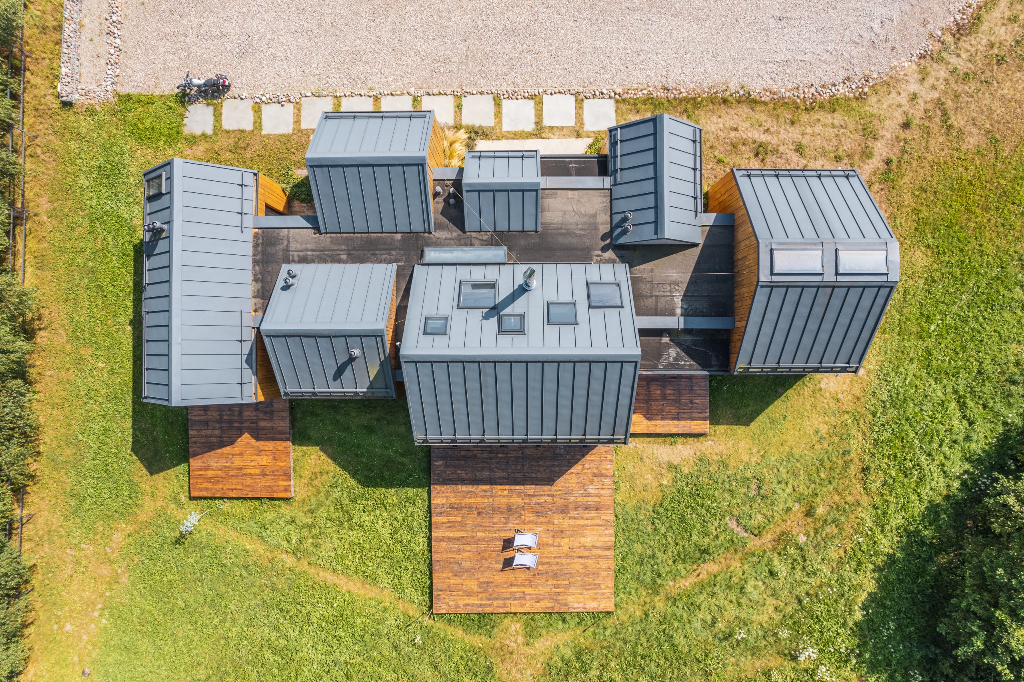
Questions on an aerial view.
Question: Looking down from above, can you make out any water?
No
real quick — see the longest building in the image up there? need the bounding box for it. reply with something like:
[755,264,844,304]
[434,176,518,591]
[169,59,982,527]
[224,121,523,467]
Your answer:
[137,108,901,448]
